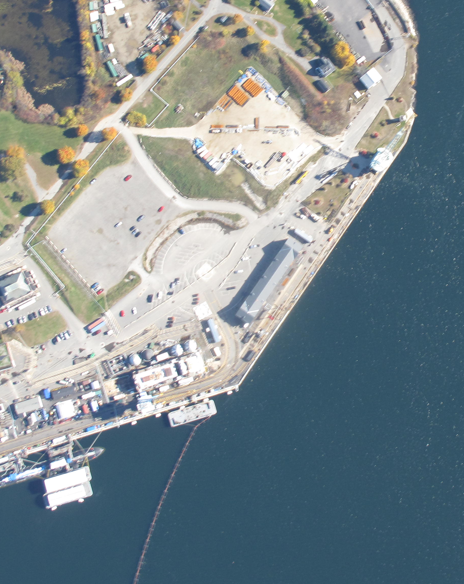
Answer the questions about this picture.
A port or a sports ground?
port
